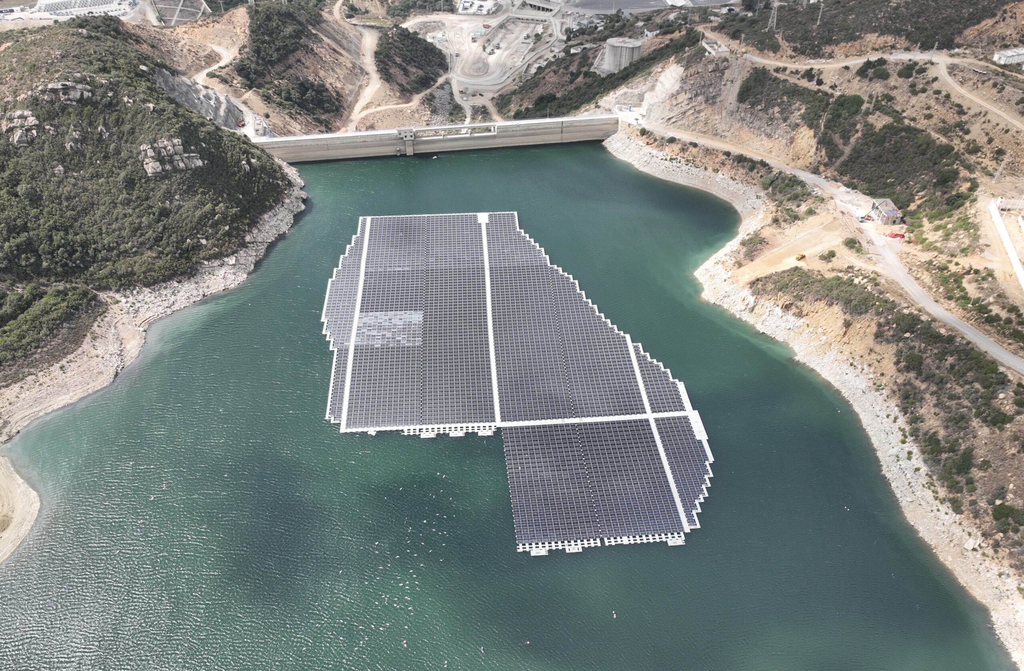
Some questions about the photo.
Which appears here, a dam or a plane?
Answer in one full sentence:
The one in the frame is a dam.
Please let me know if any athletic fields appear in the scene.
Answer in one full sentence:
No, no athletic field is visible in the scene.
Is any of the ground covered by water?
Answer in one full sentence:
Yes, water shows up in the scene.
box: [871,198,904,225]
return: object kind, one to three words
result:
building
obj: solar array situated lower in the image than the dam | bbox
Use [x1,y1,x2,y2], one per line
[320,211,713,555]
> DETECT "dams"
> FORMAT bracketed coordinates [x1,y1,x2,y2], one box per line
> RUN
[247,108,628,162]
